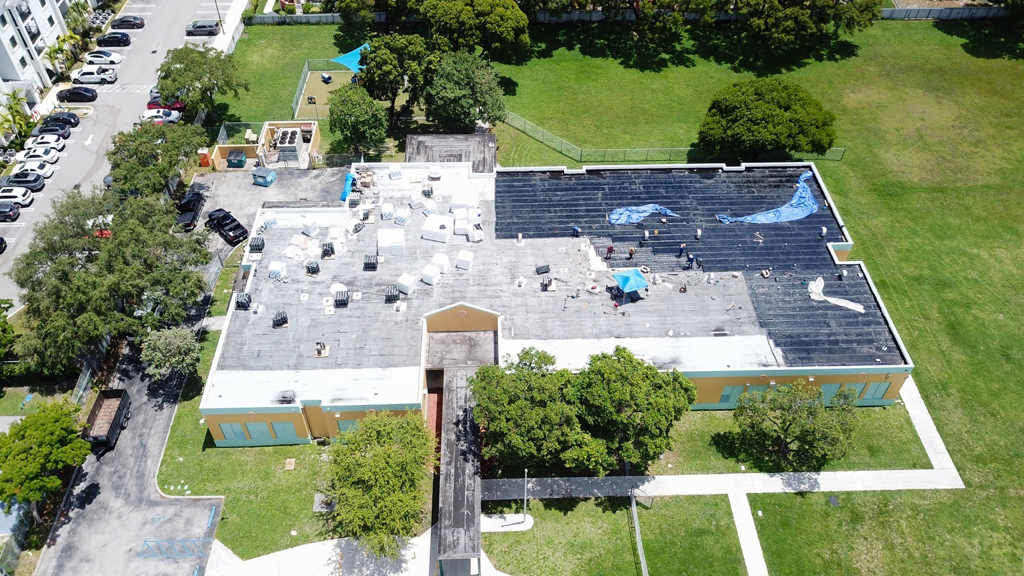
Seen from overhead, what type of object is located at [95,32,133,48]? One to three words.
car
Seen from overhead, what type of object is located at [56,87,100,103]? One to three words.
car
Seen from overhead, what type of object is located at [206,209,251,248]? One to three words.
truck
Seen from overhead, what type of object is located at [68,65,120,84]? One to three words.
vehicle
